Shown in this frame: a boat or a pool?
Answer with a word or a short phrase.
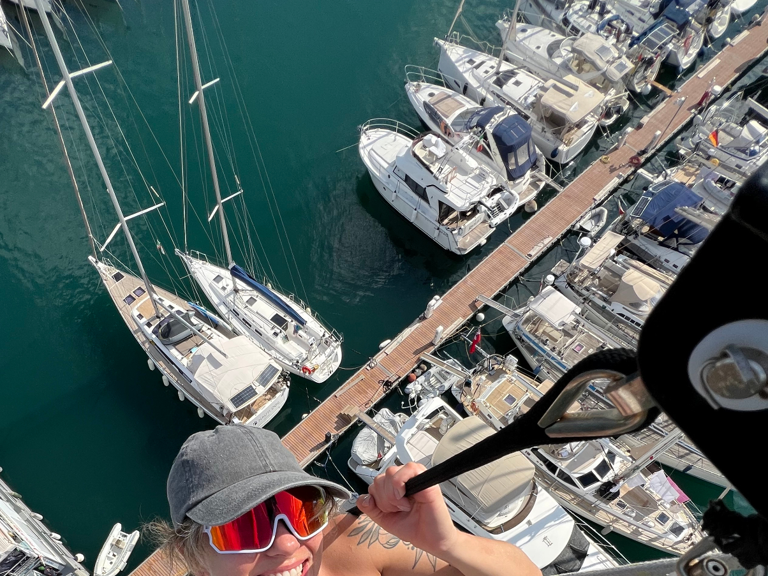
boat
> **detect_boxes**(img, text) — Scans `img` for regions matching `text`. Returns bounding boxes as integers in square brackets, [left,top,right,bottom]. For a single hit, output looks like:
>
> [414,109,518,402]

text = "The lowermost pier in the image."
[285,12,768,456]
